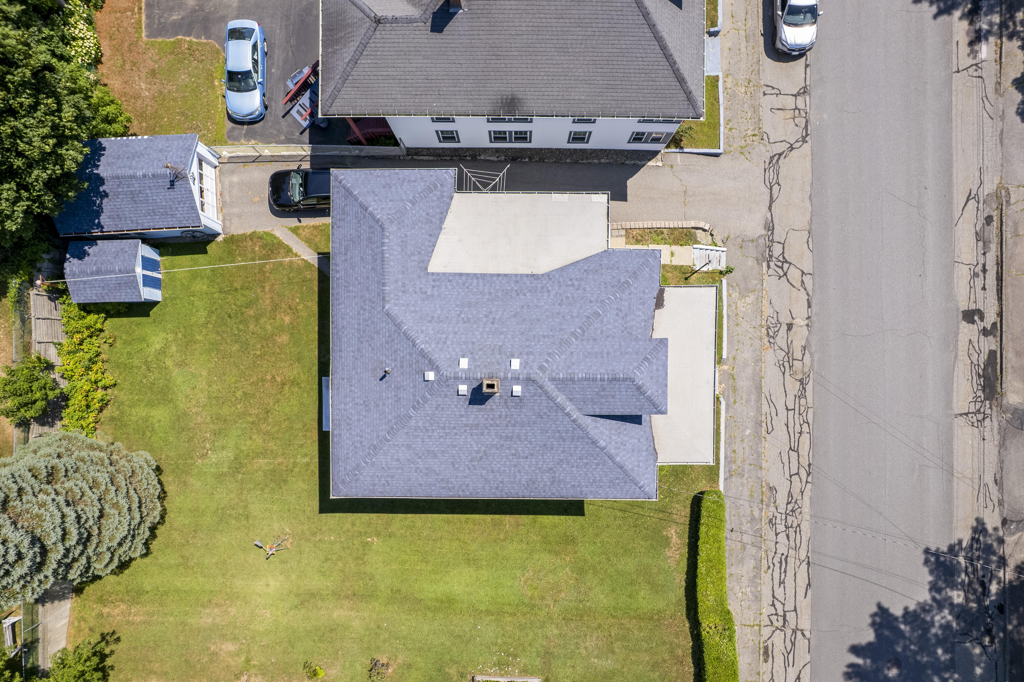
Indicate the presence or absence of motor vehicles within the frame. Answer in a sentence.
Yes, the photo shows a motor vehicle.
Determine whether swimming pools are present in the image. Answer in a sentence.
No, the scene contains no swimming pool.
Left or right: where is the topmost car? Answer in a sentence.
It is on the right.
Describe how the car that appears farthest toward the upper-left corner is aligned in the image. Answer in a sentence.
The car that appears farthest toward the upper-left corner runs up and down in the image.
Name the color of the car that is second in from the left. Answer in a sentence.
From above, the car that is second in from the left appears black.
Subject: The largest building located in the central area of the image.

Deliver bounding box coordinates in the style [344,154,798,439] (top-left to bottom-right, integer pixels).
[323,167,719,501]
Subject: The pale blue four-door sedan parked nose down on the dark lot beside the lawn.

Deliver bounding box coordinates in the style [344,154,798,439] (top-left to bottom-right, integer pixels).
[218,16,269,126]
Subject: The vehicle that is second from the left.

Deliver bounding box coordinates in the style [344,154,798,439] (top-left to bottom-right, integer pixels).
[267,162,333,213]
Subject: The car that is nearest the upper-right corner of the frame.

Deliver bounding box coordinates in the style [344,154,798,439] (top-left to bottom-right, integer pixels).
[768,0,825,57]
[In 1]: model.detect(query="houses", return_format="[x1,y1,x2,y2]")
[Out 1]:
[319,0,706,152]
[323,167,719,501]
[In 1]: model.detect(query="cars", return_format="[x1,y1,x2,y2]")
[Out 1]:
[218,16,269,126]
[768,0,825,57]
[267,162,333,213]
